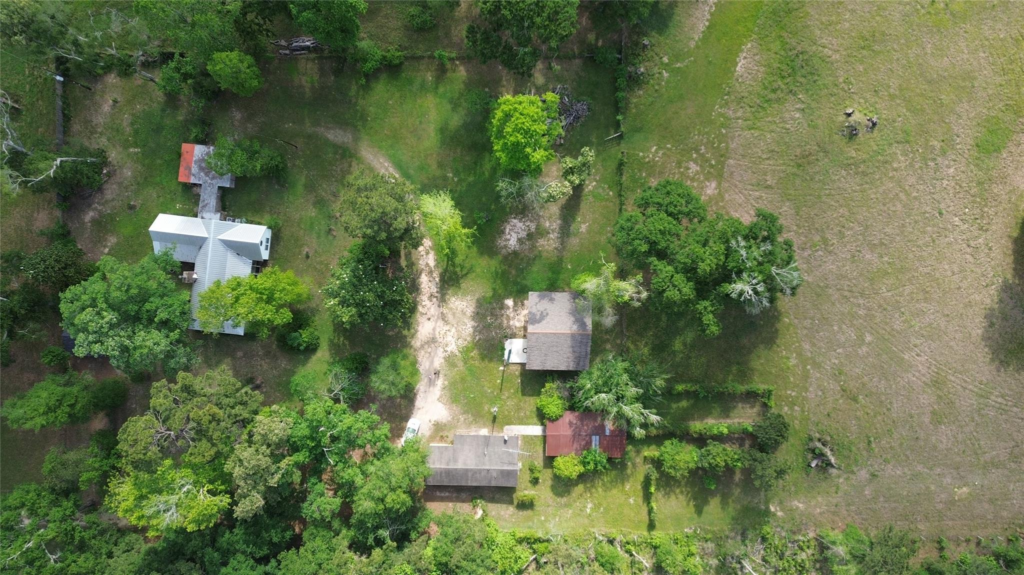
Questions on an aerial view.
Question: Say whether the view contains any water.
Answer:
No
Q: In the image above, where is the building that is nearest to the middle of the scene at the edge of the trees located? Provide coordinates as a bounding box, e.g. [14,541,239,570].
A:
[526,292,591,370]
